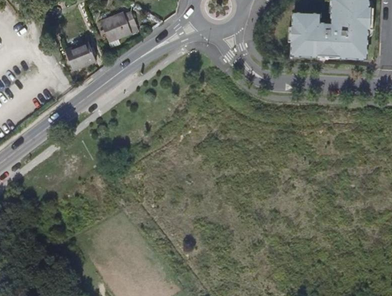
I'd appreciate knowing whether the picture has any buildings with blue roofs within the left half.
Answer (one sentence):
No, no building with a blue roof appears within the left half.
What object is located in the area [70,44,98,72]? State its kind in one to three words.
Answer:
house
